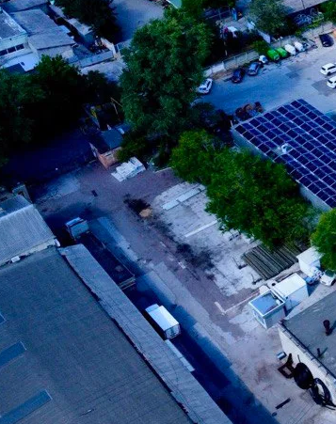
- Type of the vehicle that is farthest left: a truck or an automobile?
truck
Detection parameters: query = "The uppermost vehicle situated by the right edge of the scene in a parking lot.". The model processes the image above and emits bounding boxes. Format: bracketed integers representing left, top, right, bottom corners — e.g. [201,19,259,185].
[318,31,335,49]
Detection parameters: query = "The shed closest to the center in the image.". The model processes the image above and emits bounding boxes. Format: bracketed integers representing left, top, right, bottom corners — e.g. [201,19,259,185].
[89,132,135,179]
